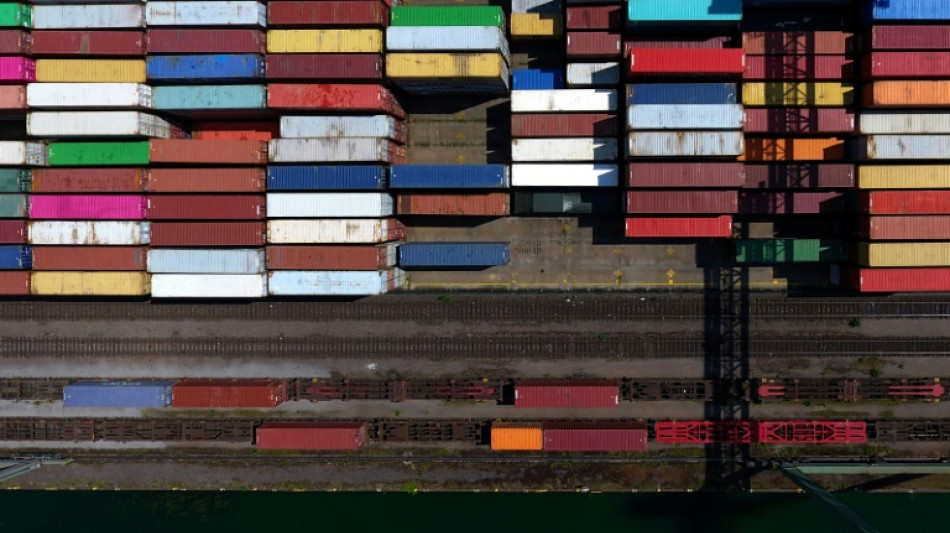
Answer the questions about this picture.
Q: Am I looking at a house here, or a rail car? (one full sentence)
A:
The one in the frame is a rail car.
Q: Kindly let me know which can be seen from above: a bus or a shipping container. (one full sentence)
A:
The one in the frame is a shipping container.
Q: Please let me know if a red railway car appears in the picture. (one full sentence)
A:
Yes, looking at the shot, I can spot a red railway car.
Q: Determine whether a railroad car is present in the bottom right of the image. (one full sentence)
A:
Yes, looking in the bottom right of the image, one can make out a railroad car.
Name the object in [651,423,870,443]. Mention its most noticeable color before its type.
red rail car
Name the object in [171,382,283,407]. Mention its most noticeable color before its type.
red shipping container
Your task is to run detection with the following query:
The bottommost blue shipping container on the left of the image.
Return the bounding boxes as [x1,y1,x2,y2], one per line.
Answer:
[62,382,177,407]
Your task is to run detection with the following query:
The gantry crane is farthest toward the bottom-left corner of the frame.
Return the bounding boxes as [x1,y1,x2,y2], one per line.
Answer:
[0,451,65,482]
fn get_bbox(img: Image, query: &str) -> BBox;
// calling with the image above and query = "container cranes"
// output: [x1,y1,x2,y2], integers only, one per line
[760,451,950,533]
[0,451,65,482]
